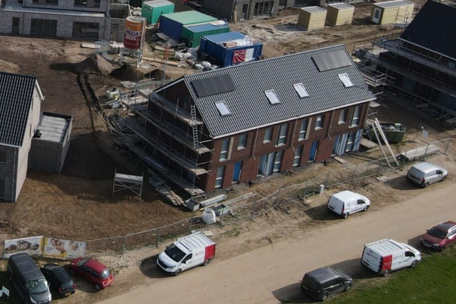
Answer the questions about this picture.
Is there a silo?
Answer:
Yes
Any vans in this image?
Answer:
Yes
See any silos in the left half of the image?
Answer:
Yes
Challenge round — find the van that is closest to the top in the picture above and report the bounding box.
[406,158,451,188]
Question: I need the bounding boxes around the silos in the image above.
[122,11,151,67]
